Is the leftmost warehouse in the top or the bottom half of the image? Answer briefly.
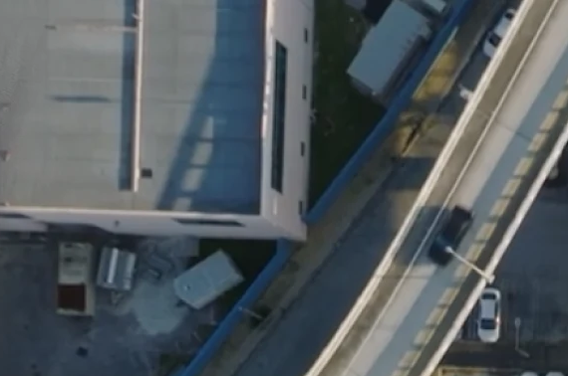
top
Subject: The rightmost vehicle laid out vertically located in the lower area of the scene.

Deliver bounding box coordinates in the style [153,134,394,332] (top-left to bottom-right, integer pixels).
[475,287,501,342]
